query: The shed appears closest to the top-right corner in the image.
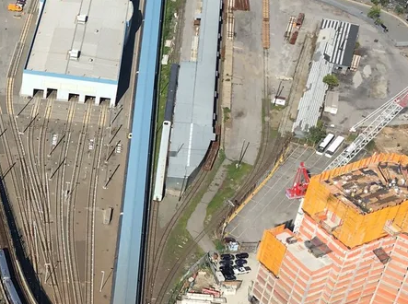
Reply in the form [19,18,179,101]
[317,18,359,77]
